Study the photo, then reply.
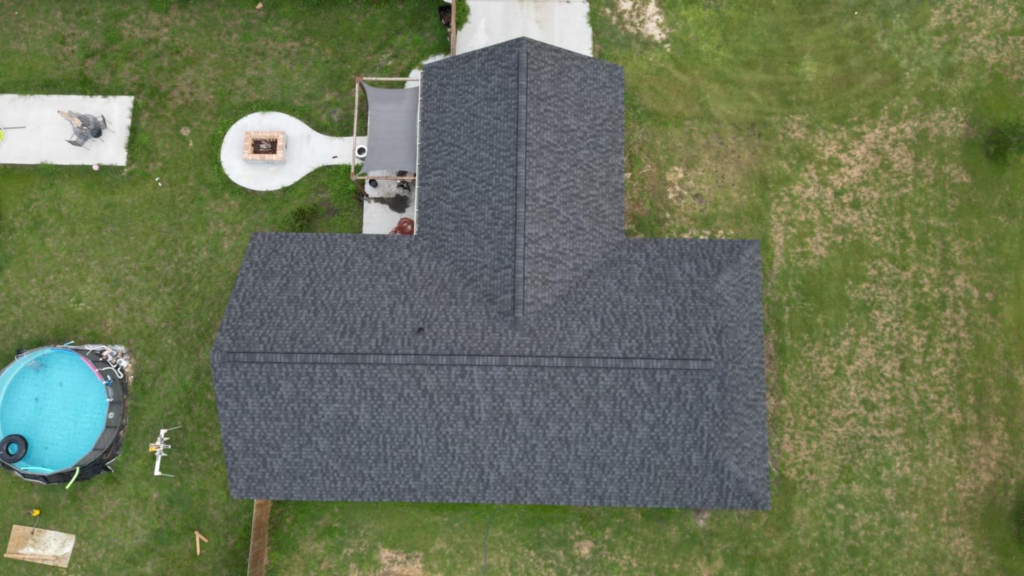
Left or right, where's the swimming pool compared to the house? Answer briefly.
left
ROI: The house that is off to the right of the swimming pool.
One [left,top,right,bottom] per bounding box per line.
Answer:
[210,38,772,512]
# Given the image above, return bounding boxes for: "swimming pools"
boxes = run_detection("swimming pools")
[0,347,126,476]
